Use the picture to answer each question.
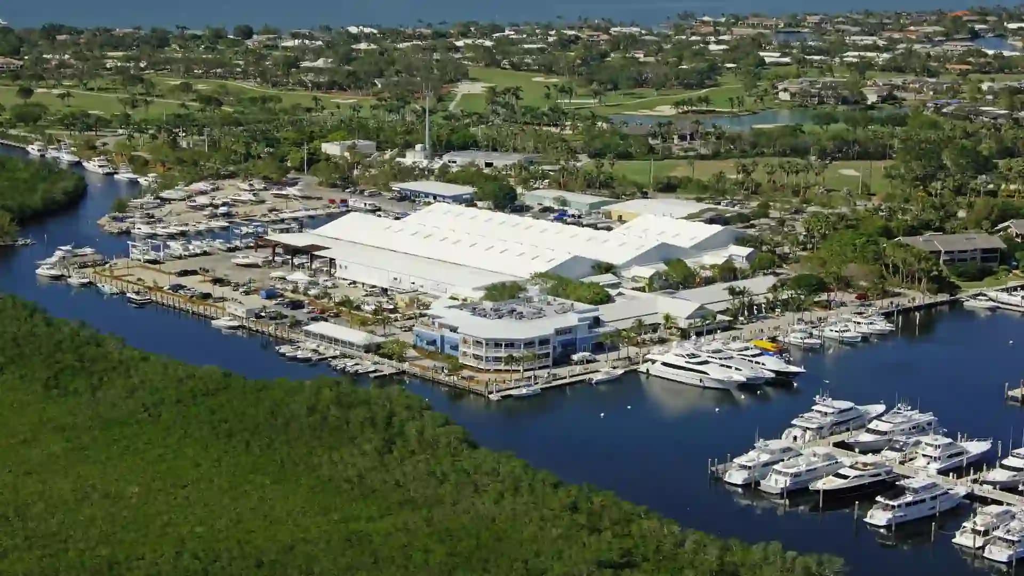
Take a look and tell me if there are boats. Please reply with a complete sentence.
Yes, a boat appears in the view.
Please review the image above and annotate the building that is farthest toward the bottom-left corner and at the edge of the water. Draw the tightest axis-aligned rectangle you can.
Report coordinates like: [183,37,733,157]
[226,296,272,330]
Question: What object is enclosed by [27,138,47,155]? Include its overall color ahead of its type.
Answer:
white boat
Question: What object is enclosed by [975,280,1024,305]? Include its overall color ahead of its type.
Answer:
white boat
